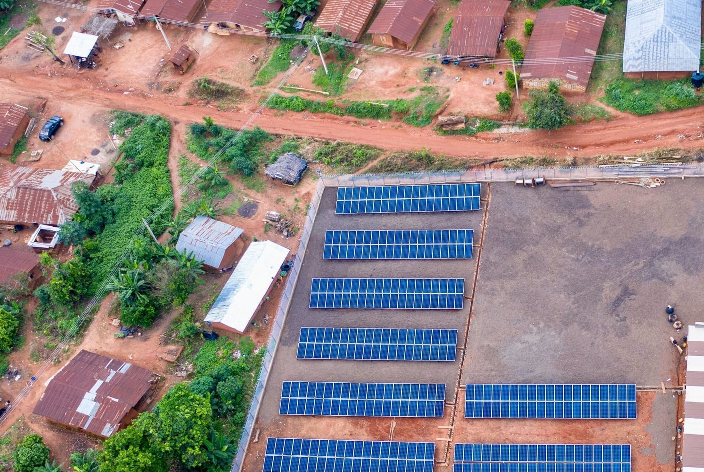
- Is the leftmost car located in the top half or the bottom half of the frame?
top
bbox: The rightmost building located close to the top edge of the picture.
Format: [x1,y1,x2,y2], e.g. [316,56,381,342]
[623,0,699,86]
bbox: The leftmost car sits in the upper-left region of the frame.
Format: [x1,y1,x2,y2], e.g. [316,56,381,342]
[38,116,61,140]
